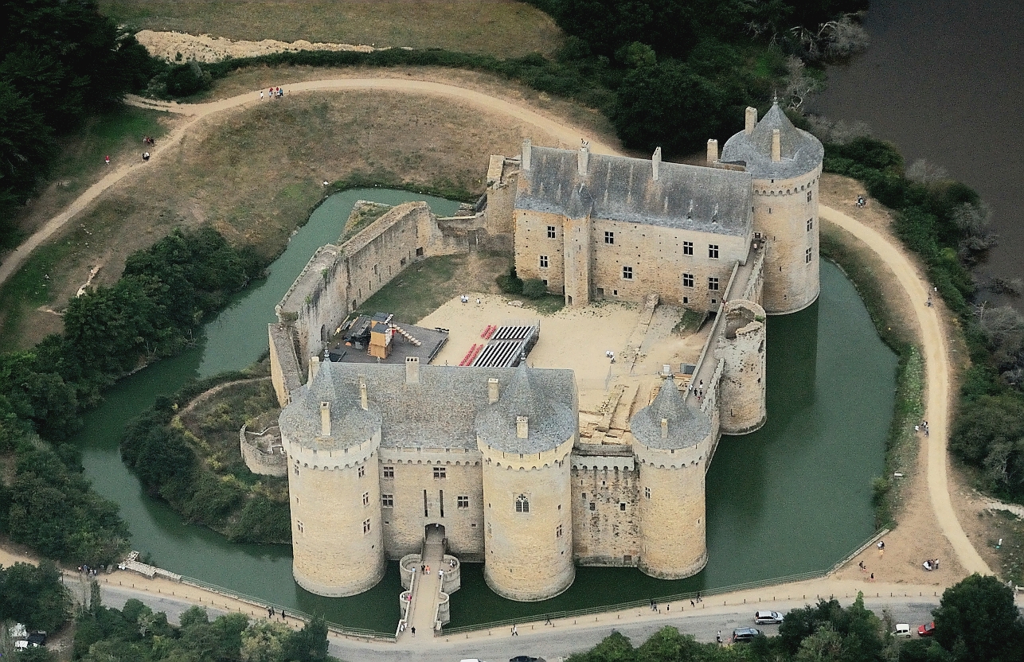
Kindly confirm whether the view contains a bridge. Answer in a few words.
Yes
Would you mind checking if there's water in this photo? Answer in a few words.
Yes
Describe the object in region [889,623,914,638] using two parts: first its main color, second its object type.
white car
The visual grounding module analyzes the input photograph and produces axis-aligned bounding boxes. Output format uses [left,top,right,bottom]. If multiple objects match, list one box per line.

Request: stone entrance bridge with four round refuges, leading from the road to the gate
[394,538,463,653]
